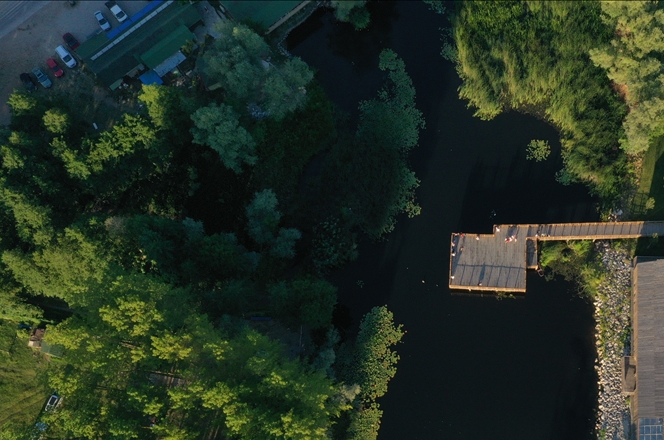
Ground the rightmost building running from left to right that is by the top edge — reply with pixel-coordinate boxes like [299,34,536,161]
[225,0,310,40]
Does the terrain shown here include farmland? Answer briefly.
No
